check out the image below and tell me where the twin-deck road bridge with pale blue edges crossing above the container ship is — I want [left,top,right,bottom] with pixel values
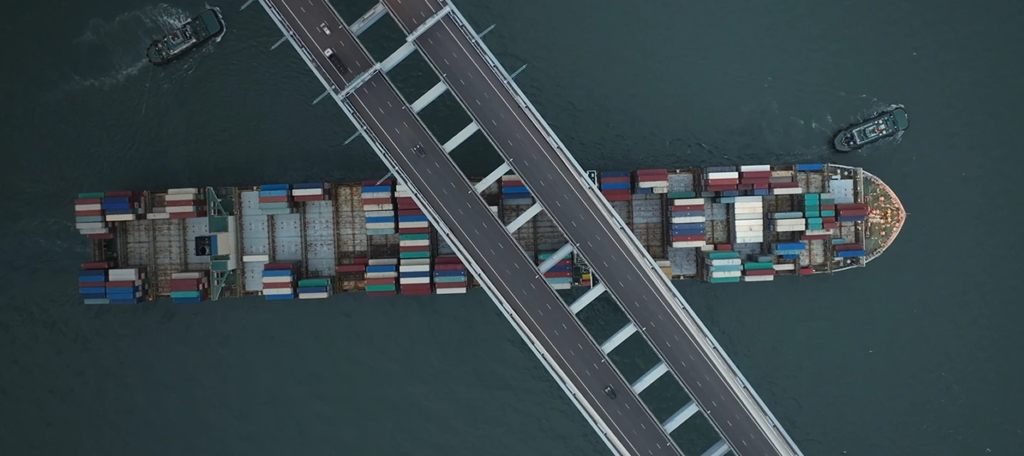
[240,0,805,456]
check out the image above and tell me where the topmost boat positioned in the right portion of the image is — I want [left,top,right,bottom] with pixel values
[834,104,911,153]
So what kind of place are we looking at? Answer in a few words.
port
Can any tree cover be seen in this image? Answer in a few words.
No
